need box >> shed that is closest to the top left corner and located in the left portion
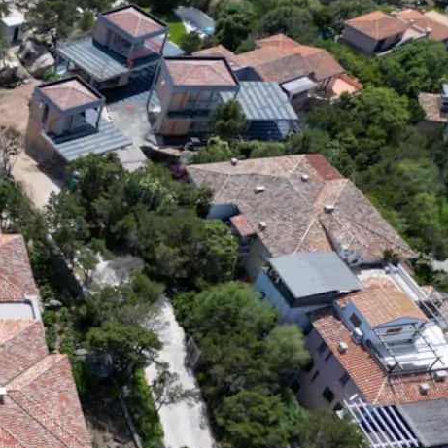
[1,13,25,44]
